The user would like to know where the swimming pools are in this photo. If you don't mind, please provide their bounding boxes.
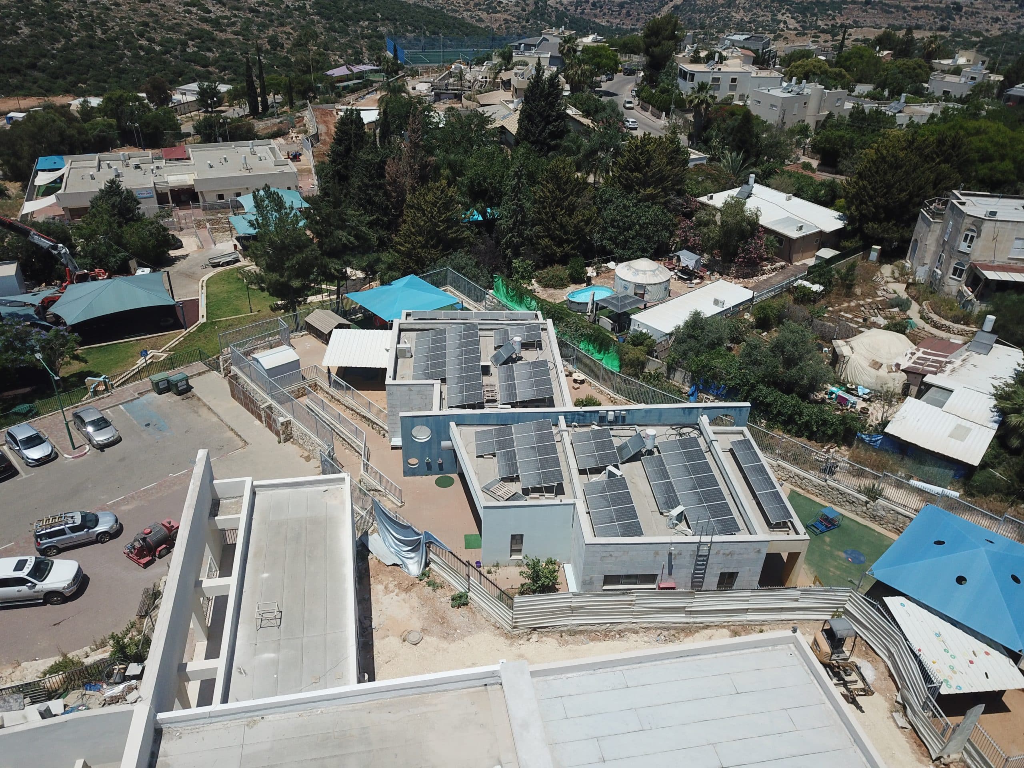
[566,284,619,308]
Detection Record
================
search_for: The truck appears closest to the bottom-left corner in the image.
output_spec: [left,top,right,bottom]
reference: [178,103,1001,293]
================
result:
[0,555,81,606]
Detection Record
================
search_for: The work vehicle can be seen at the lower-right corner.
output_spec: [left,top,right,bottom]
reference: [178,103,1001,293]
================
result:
[815,616,866,690]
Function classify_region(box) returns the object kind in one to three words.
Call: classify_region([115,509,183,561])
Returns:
trailer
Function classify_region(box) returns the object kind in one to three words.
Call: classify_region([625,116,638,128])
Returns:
vehicle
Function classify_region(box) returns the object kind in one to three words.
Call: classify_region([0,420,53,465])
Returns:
car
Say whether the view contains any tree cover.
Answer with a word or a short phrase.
Yes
